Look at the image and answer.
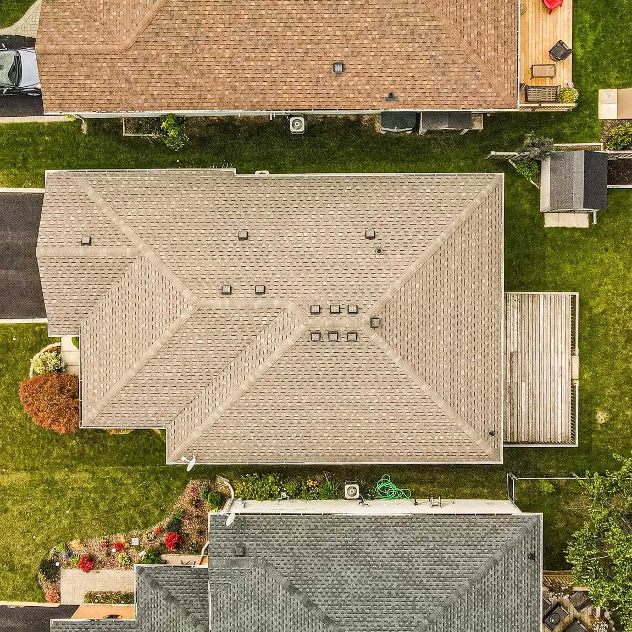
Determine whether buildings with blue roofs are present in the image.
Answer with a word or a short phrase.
No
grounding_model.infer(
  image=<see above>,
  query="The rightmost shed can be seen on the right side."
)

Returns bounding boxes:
[541,150,608,224]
